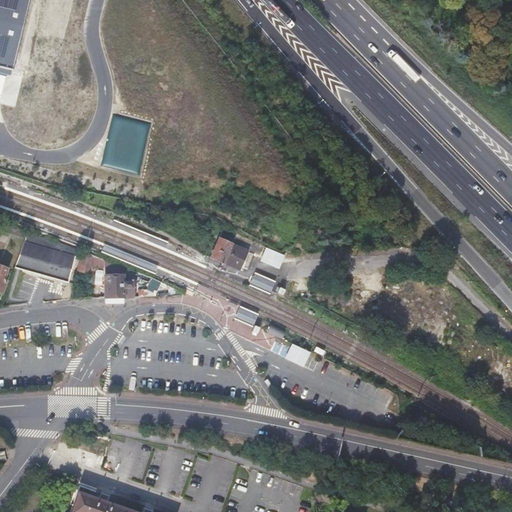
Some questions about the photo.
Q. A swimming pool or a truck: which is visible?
truck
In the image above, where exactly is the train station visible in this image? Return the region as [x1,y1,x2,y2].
[0,182,212,290]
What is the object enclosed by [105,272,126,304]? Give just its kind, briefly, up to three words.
house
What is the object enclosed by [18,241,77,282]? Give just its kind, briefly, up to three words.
building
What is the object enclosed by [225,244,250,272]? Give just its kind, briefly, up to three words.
building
